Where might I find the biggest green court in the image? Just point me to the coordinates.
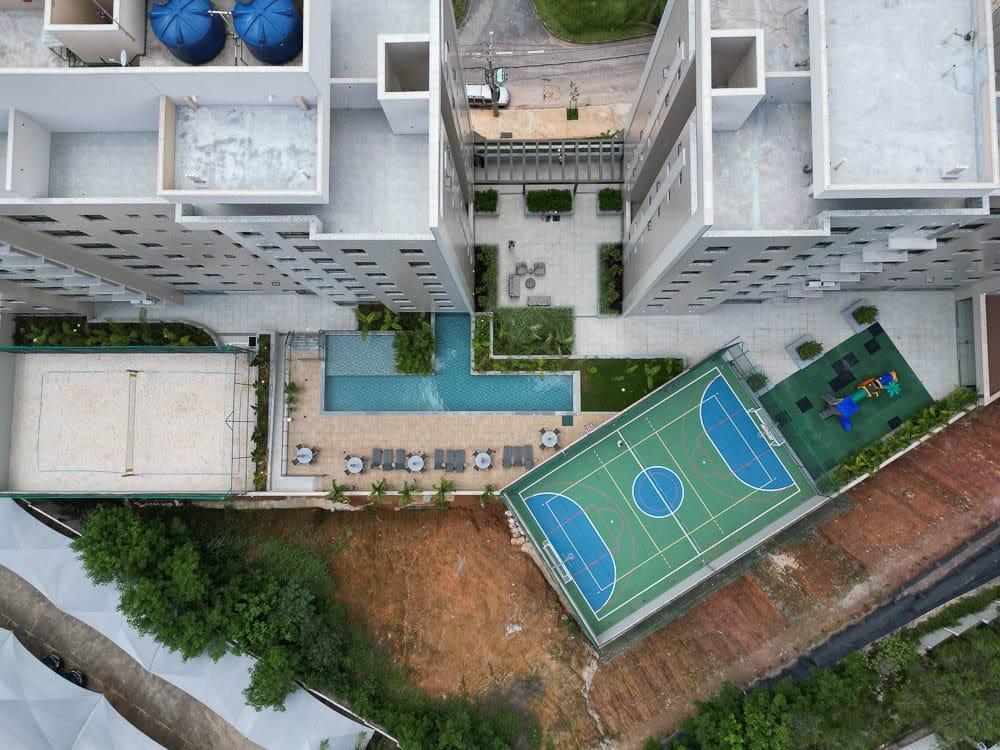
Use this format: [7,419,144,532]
[502,346,824,641]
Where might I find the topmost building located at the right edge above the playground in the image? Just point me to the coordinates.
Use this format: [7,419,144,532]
[620,0,1000,315]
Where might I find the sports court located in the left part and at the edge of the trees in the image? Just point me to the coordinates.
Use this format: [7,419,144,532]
[12,352,252,491]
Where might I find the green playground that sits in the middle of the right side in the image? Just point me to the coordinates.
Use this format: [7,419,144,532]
[767,321,936,481]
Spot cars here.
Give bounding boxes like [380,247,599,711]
[39,644,69,674]
[64,662,94,688]
[463,78,508,107]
